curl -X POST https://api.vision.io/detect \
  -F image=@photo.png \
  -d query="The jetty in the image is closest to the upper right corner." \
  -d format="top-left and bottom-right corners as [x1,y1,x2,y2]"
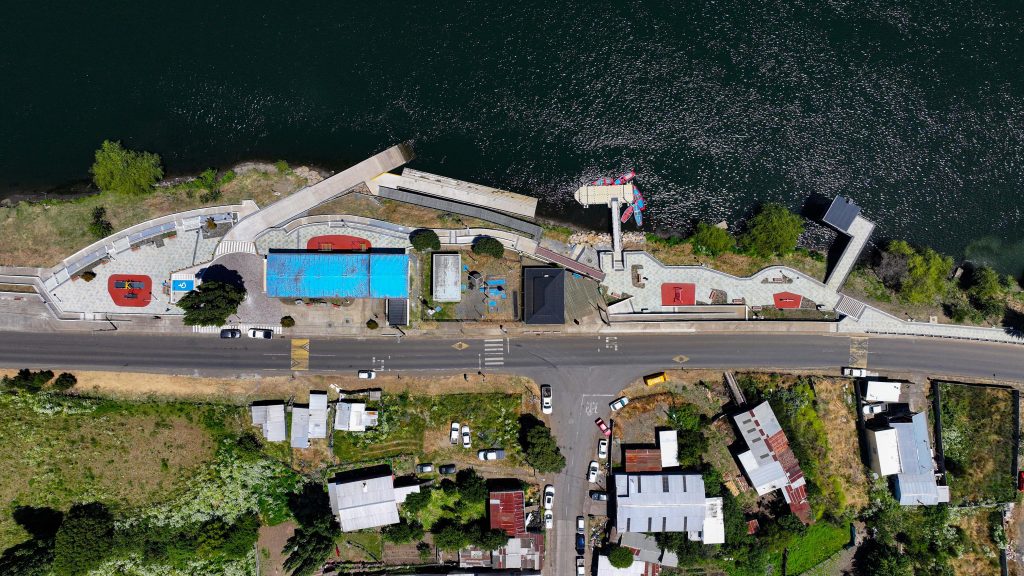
[824,215,875,293]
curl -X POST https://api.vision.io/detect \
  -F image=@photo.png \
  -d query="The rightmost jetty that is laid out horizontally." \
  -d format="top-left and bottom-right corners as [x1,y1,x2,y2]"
[575,182,634,208]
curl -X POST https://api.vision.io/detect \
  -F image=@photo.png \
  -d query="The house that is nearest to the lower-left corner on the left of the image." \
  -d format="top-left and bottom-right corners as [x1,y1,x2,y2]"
[251,404,289,441]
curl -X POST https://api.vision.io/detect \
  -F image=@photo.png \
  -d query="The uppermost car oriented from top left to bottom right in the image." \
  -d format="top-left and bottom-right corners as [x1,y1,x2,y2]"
[595,417,612,438]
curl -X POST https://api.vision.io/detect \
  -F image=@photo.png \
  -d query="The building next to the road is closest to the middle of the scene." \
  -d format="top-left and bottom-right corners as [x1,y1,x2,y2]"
[525,268,565,324]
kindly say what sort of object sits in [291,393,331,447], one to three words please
house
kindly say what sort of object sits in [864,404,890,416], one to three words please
vehicle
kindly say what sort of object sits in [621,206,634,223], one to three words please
boat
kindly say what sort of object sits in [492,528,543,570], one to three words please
shed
